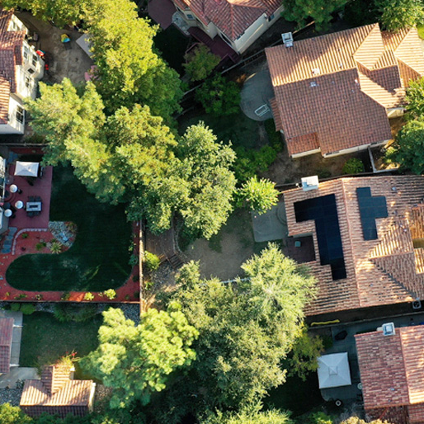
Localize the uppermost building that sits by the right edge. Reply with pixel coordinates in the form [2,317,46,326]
[264,22,424,159]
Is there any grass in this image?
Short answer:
Yes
